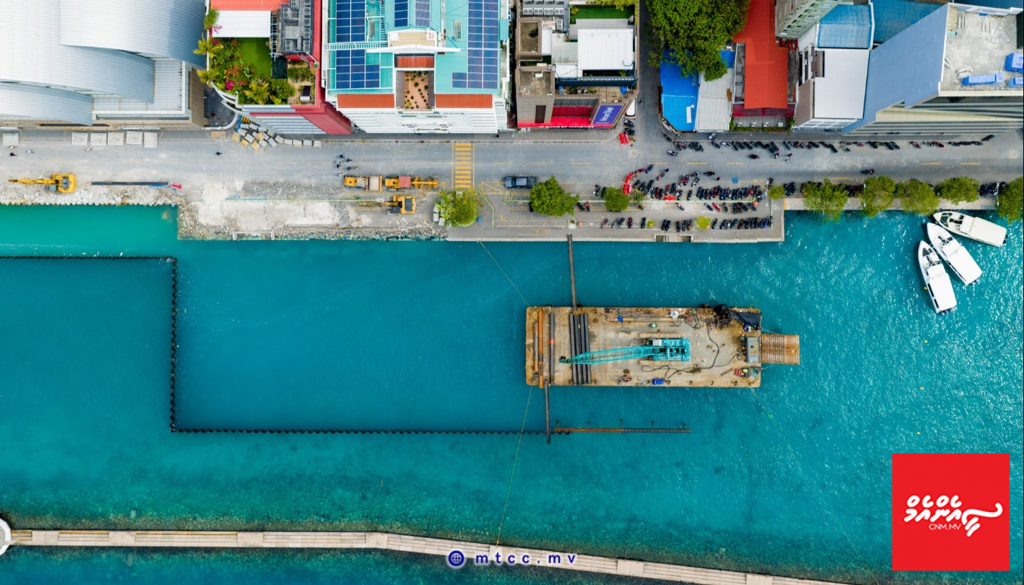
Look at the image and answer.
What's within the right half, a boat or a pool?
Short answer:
boat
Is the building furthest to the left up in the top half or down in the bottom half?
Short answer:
top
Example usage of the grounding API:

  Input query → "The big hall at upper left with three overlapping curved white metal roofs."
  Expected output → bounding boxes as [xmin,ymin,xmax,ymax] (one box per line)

[0,0,207,137]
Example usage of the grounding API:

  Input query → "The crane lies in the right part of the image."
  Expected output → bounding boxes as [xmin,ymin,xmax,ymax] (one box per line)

[547,331,690,365]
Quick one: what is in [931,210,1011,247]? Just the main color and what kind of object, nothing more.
white boat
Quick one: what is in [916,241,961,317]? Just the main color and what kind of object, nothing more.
white boat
